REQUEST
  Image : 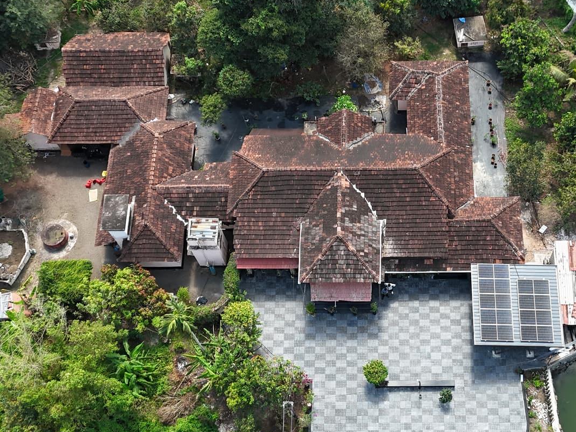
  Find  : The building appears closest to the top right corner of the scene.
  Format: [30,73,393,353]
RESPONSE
[453,15,487,56]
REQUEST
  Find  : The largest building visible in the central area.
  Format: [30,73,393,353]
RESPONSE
[155,58,526,314]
